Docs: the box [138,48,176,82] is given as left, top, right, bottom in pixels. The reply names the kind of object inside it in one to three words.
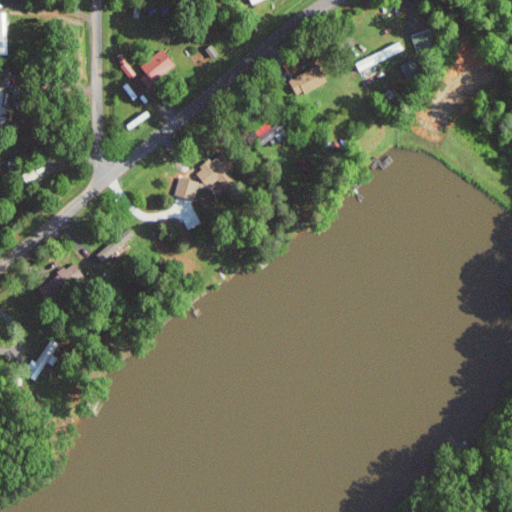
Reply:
house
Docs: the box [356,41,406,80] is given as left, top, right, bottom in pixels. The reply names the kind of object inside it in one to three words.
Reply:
house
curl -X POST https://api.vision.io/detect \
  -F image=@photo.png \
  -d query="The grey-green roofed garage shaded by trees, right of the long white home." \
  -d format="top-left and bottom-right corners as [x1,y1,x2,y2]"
[410,31,433,53]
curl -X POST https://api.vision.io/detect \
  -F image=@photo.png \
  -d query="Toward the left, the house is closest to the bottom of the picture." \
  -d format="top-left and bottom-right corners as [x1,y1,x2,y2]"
[30,340,59,381]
